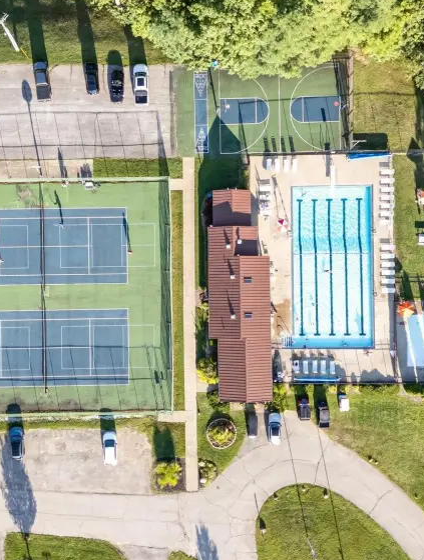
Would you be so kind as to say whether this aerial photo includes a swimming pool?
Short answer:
Yes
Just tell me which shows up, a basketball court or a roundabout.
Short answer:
basketball court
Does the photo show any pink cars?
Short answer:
No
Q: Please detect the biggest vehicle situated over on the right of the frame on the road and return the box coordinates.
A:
[267,411,282,445]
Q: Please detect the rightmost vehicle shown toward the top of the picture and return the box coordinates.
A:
[132,64,149,108]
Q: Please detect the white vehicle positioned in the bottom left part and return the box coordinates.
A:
[101,430,117,465]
